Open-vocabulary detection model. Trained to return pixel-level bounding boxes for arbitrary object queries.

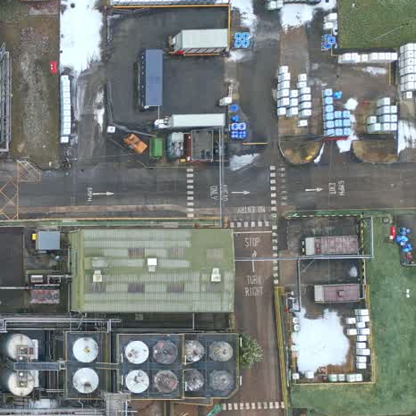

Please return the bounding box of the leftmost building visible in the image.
[34,231,60,249]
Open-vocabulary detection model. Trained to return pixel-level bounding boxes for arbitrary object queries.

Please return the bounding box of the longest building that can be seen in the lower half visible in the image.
[63,228,236,313]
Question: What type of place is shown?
industrial area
